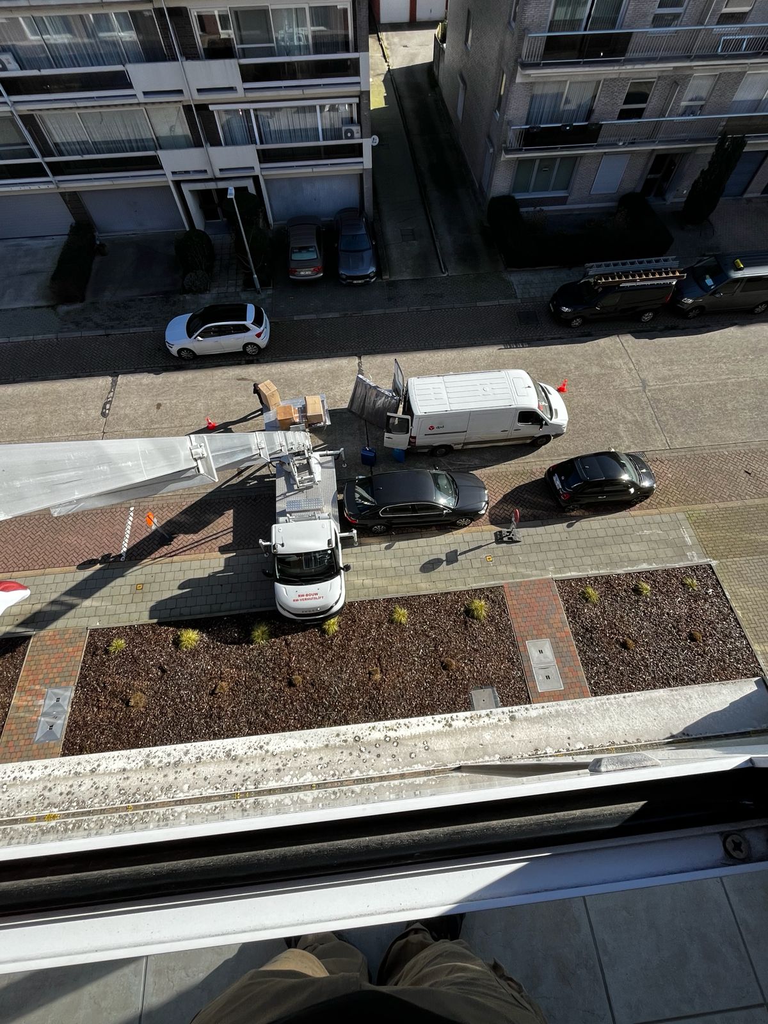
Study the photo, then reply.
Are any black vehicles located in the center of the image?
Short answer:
Yes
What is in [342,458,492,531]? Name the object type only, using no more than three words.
car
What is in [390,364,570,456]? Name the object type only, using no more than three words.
van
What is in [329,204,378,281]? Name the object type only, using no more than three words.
car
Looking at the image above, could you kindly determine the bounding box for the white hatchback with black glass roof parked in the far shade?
[163,301,269,360]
